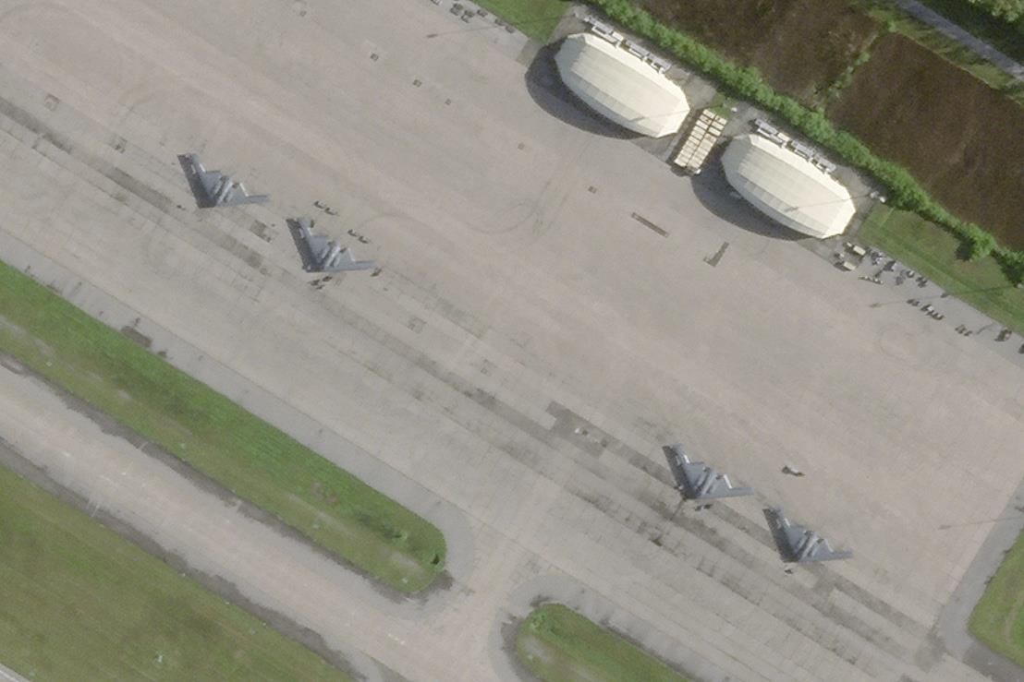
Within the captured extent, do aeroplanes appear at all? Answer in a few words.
Yes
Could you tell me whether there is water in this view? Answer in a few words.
No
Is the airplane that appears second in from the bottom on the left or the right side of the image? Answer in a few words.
right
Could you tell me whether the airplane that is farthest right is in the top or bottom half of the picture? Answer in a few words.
bottom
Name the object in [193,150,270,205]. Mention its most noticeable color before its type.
gray airplane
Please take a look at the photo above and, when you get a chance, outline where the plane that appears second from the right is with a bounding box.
[678,445,752,499]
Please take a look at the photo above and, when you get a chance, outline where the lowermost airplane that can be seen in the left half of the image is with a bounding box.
[301,216,378,270]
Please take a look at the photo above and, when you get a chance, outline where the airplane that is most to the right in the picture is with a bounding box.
[776,507,850,561]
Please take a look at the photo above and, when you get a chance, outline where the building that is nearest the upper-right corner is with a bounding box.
[723,135,858,240]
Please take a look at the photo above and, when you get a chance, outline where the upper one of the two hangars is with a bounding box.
[554,33,691,138]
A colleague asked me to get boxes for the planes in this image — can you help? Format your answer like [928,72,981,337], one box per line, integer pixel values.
[678,445,752,499]
[193,150,270,205]
[301,216,378,270]
[776,507,850,561]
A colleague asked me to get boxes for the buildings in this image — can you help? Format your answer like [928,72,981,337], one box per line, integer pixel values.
[554,33,691,138]
[723,135,858,240]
